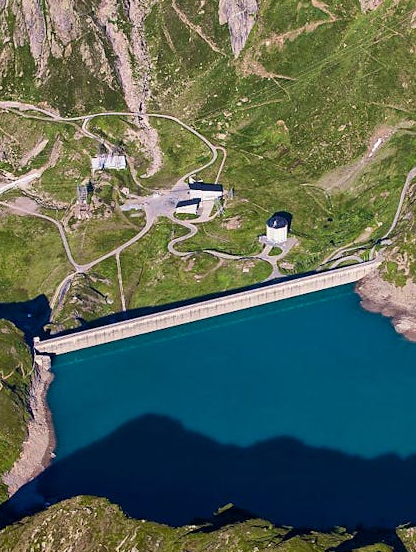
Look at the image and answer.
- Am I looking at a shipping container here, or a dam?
dam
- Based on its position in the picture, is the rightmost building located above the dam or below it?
above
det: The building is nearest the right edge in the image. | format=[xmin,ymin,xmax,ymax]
[265,212,287,243]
